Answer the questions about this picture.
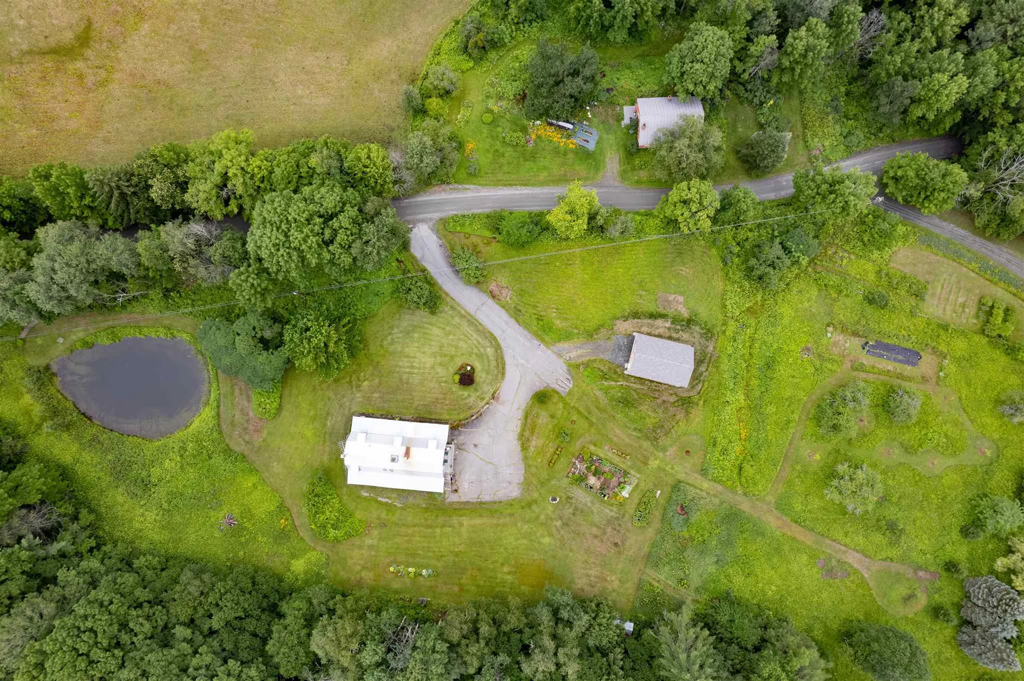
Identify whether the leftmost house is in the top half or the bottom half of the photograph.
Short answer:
bottom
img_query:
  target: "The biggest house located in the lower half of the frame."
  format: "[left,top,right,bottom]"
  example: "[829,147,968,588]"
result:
[343,416,449,492]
